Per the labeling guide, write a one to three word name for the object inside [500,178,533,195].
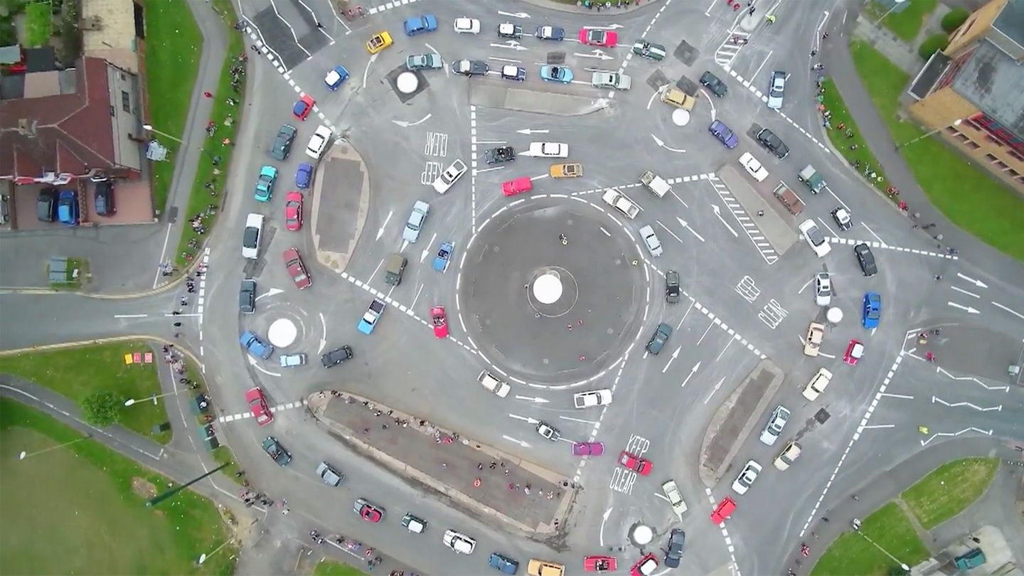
car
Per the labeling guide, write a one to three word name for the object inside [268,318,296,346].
roundabout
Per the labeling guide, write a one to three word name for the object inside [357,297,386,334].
truck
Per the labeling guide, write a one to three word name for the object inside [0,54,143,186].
house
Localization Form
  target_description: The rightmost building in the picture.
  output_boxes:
[897,0,1024,194]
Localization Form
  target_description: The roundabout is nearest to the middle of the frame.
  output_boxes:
[533,273,562,303]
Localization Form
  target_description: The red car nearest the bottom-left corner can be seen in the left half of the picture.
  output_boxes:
[245,385,276,428]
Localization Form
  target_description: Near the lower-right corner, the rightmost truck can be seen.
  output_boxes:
[951,547,989,574]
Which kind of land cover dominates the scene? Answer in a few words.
paved ground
